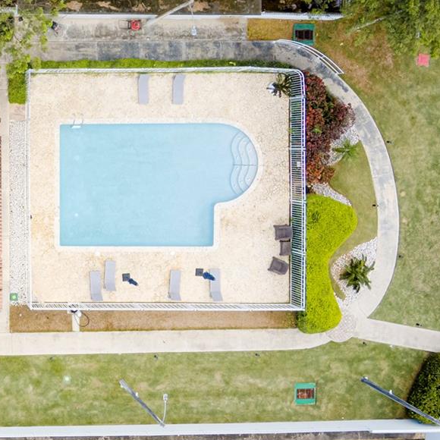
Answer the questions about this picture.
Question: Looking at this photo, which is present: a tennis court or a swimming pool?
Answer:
swimming pool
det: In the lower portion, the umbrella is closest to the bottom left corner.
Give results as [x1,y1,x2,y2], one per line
[122,273,142,288]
